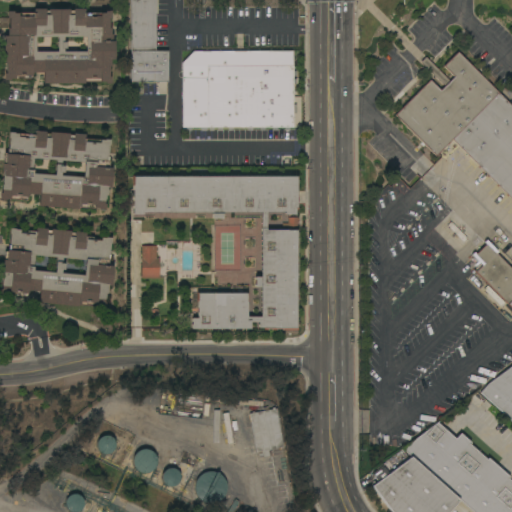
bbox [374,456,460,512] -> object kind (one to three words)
building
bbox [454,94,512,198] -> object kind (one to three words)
building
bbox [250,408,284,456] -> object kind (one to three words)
shed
